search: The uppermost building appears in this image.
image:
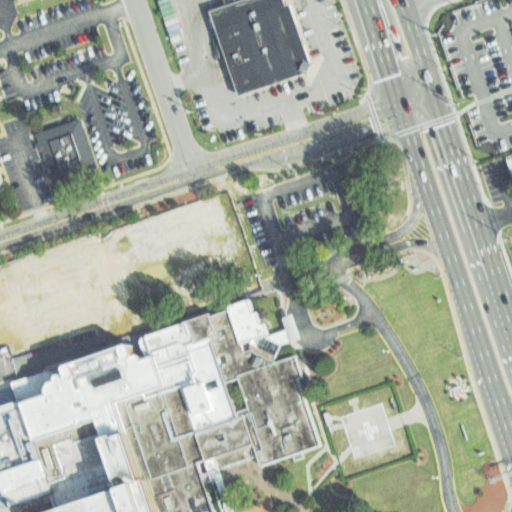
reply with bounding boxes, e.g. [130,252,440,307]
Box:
[209,0,310,100]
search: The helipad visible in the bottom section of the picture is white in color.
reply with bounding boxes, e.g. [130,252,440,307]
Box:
[342,403,395,459]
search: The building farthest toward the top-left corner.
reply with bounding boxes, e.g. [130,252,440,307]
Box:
[38,120,100,185]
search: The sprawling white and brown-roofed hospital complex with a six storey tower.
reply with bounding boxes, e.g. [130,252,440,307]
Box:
[0,298,320,512]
